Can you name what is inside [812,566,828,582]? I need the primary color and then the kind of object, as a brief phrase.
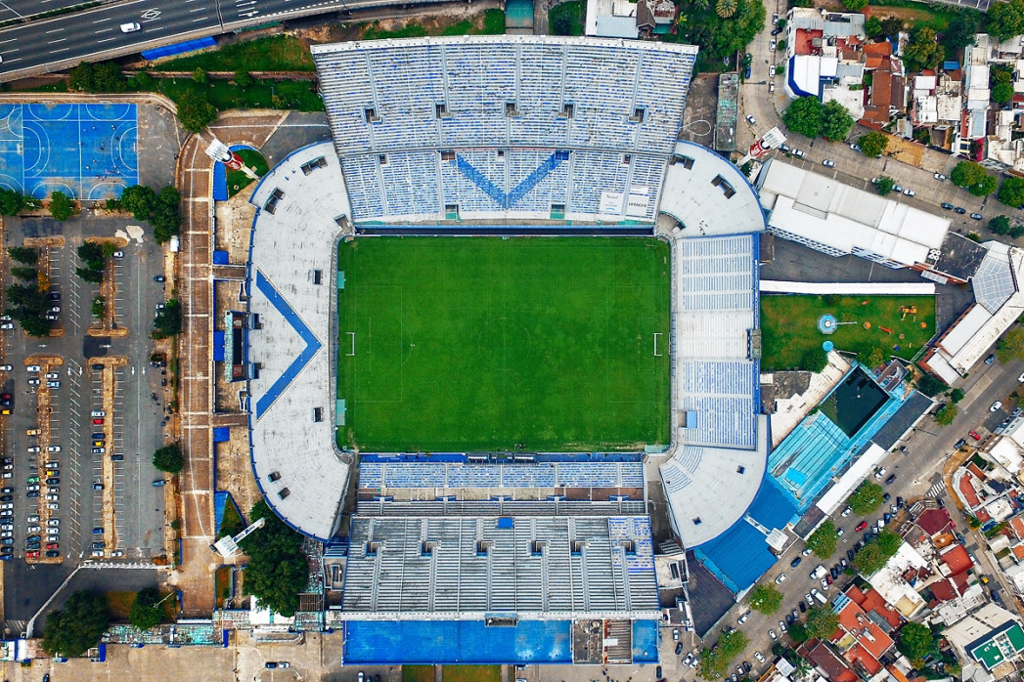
white vehicle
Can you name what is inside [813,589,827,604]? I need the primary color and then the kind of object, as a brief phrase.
white vehicle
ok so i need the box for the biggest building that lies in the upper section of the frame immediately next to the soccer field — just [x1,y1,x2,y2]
[755,159,951,268]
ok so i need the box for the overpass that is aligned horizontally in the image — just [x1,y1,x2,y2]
[0,0,418,82]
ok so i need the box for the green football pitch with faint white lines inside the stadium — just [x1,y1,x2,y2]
[337,237,671,454]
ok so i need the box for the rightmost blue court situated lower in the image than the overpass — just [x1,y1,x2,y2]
[22,103,139,199]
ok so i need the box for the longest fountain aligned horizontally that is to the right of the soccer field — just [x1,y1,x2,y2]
[819,314,859,333]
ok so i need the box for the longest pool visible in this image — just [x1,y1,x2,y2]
[768,362,916,510]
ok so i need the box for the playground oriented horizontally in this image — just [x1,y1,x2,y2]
[765,294,936,375]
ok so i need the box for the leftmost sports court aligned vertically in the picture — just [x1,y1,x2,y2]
[0,103,22,197]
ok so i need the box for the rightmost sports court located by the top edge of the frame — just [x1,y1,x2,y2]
[505,0,534,36]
